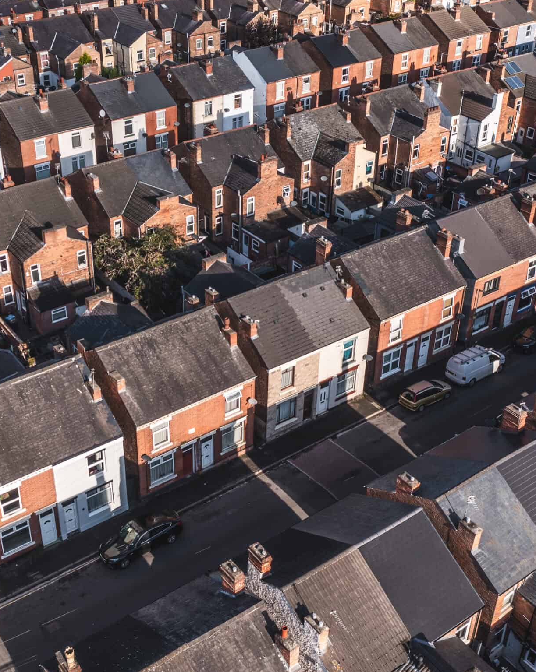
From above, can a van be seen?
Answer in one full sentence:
Yes, a van is visible in the scene.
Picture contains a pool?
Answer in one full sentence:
No, no pool can be seen from above.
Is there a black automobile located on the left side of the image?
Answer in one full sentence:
Yes, I can see a black automobile on the left side of the image.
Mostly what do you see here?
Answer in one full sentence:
The scene is dominated by buildings.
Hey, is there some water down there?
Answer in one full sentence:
No, water can't be seen anywhere here.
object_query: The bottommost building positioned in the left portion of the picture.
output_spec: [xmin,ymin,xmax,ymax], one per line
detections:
[38,560,304,672]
